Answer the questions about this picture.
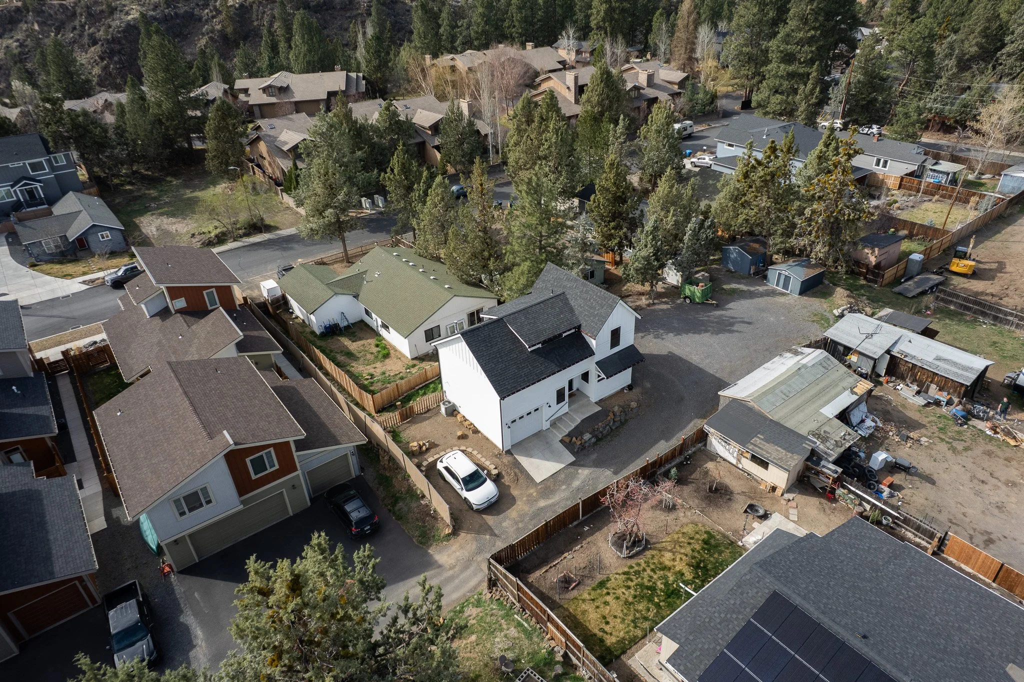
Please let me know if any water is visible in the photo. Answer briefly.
No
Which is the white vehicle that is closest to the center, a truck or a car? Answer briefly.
car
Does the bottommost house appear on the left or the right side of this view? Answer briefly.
right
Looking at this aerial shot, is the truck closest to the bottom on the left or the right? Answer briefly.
left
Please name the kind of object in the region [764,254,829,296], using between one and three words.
shed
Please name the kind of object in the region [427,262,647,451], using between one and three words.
house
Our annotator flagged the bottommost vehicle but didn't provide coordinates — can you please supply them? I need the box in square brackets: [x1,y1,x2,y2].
[98,564,162,682]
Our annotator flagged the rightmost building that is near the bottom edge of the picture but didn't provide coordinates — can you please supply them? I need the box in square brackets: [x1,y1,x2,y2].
[651,516,1024,682]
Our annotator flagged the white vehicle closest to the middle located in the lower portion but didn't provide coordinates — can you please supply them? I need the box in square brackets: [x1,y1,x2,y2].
[436,446,504,513]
